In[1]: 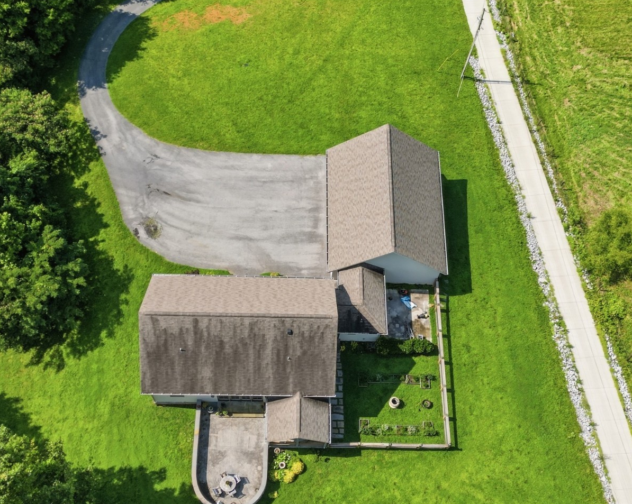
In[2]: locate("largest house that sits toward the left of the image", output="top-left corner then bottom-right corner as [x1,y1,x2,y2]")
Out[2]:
[137,273,338,419]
